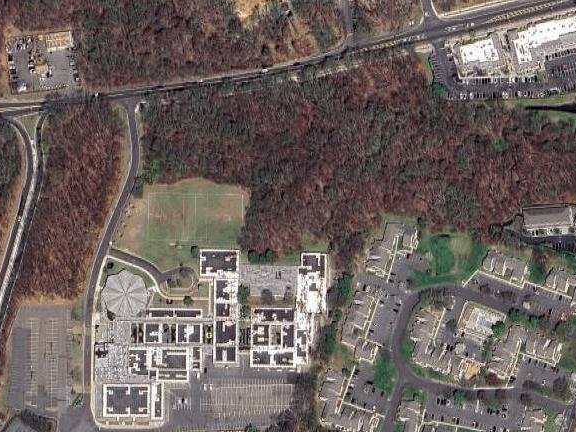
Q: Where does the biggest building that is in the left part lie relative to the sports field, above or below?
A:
below it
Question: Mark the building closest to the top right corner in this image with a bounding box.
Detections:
[507,17,576,69]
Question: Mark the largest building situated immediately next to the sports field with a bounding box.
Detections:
[94,249,328,421]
